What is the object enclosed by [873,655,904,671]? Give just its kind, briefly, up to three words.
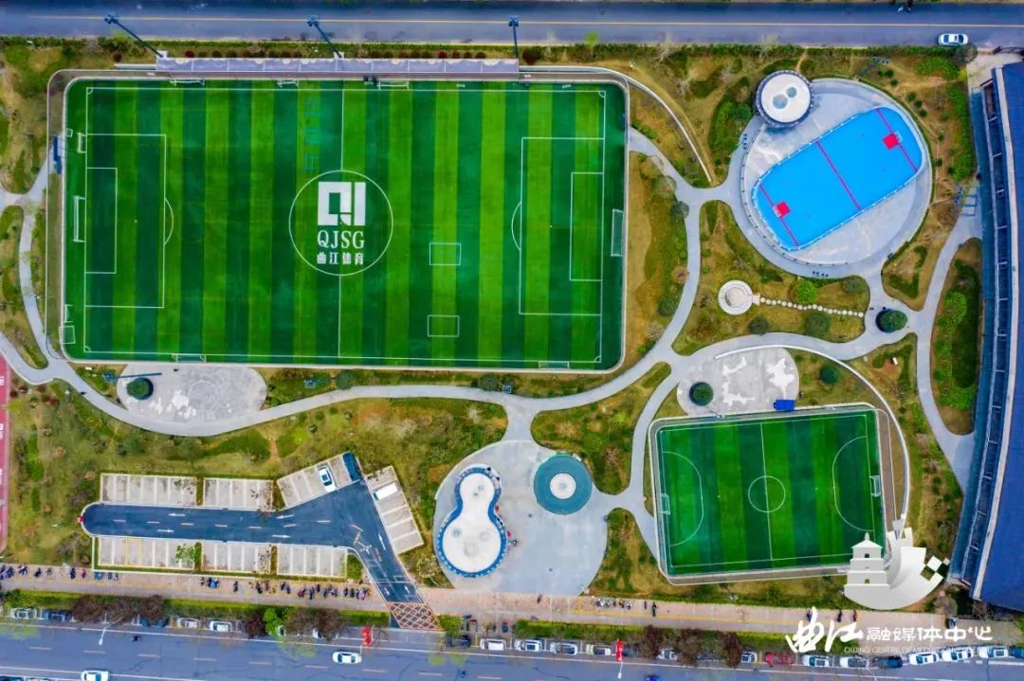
car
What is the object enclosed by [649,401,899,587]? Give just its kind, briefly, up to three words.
soccer field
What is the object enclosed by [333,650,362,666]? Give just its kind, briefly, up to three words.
car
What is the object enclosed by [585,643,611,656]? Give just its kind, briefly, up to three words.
vehicle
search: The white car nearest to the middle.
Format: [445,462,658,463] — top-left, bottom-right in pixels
[371,482,400,501]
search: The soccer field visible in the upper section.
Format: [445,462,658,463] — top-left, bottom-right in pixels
[44,69,629,374]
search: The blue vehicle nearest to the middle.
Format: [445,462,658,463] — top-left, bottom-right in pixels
[341,452,361,480]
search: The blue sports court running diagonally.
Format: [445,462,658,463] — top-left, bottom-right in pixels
[754,104,924,251]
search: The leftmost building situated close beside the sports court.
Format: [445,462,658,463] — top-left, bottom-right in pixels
[750,67,815,131]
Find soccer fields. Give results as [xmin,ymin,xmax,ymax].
[44,69,629,374]
[649,401,899,587]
